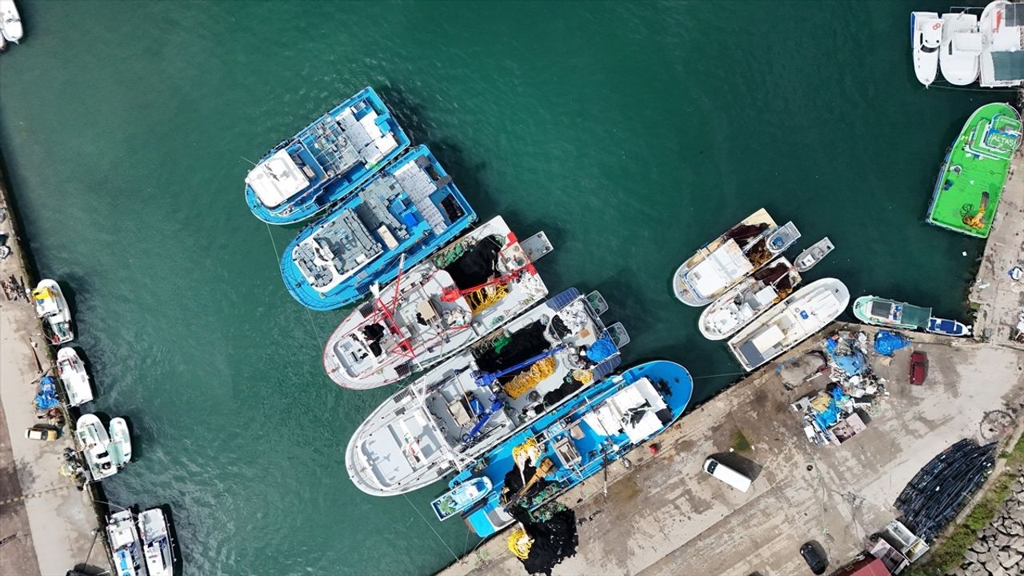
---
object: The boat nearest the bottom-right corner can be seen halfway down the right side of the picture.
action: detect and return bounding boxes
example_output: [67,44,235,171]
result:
[924,317,969,335]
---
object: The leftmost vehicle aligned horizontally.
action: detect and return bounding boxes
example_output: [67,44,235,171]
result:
[26,425,62,442]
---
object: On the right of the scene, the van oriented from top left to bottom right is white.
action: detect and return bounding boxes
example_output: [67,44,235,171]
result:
[699,452,754,494]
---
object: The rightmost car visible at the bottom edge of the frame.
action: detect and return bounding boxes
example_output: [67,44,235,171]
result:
[797,538,827,576]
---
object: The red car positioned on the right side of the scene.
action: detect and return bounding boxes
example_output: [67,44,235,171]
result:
[906,350,927,385]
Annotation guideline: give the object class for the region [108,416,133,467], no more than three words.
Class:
boat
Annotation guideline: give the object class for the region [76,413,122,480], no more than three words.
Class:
boat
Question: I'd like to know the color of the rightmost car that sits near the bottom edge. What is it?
black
